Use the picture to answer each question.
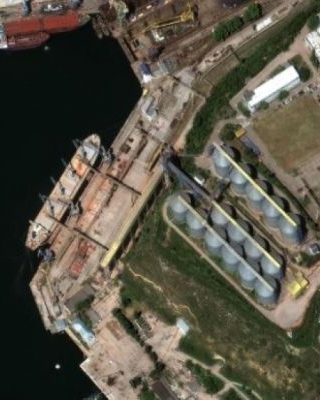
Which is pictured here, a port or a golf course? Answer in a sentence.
The picture captures a port.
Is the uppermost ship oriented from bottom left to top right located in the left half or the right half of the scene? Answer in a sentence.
The uppermost ship oriented from bottom left to top right is on the left side of the image.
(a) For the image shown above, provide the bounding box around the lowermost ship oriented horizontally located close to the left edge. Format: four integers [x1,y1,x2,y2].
[0,31,52,50]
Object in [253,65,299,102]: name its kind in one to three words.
building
